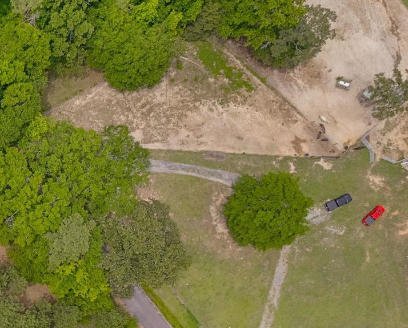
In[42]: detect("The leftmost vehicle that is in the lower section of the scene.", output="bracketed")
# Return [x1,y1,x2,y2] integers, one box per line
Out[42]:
[326,193,354,210]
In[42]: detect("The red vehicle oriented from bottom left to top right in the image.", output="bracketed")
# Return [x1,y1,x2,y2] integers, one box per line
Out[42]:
[362,203,387,226]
